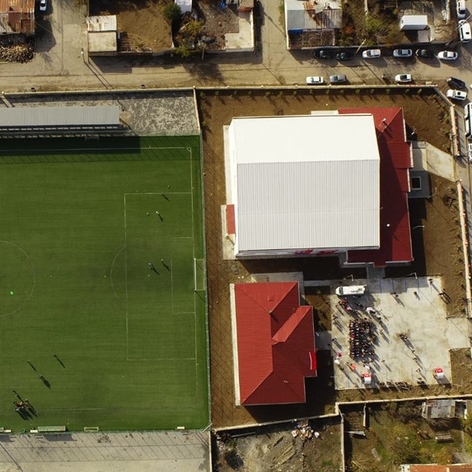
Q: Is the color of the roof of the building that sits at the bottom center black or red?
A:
red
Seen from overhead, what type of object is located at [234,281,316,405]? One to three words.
building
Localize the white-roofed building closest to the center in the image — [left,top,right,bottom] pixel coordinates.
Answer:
[231,113,379,254]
